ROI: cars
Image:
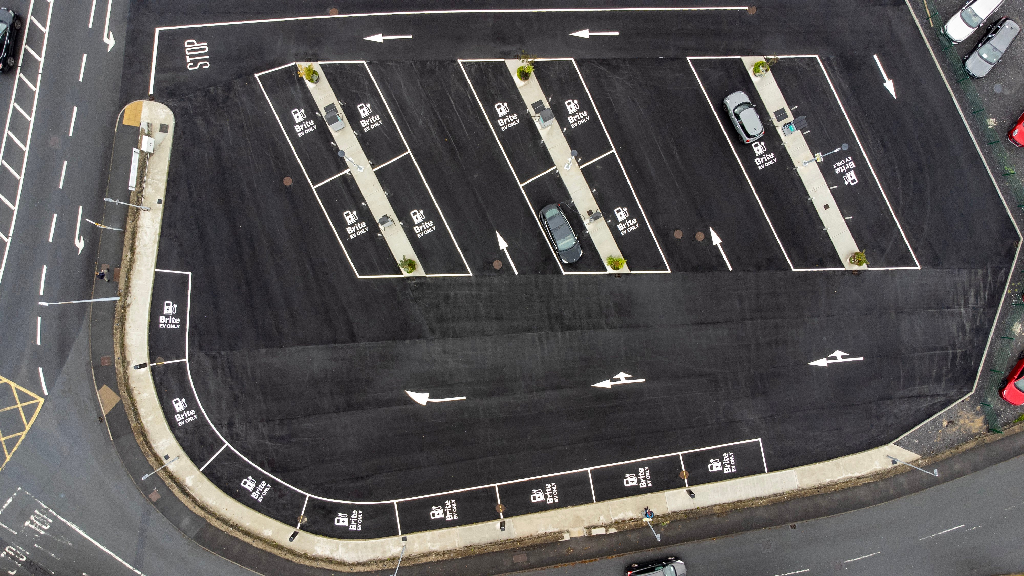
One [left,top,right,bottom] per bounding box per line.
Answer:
[943,0,1006,44]
[1000,351,1024,402]
[625,556,687,576]
[963,17,1021,79]
[541,201,583,265]
[723,90,766,144]
[1011,119,1024,149]
[0,8,22,72]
